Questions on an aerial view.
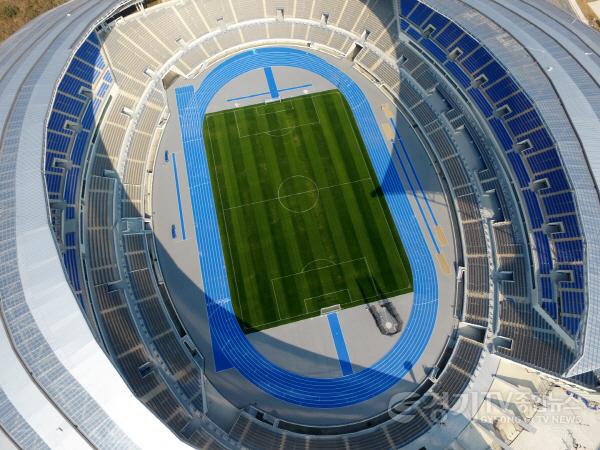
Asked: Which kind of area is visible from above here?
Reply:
sports ground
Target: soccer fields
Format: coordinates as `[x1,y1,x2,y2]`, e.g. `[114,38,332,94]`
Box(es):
[204,90,412,336]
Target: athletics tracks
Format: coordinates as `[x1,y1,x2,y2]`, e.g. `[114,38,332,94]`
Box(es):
[176,47,437,410]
